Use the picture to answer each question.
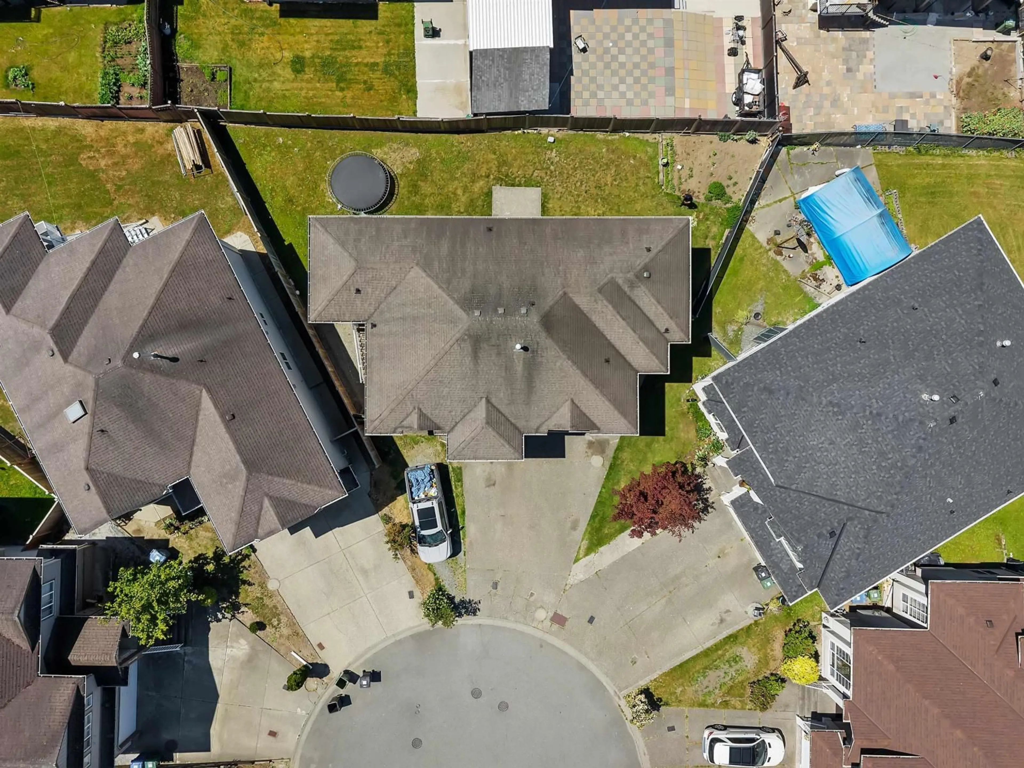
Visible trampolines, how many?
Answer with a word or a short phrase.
1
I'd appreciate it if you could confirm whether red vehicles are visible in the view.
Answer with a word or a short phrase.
No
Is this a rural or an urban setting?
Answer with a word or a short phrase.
urban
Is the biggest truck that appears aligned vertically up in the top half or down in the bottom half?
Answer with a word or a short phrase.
bottom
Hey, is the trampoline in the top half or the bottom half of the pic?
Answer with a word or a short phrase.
top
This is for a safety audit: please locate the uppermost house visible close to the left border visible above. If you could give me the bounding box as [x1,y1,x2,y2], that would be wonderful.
[0,208,358,557]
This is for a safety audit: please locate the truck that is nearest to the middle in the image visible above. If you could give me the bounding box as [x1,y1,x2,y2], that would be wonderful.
[404,461,454,565]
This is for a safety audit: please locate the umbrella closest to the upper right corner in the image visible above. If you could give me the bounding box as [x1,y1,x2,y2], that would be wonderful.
[778,233,809,254]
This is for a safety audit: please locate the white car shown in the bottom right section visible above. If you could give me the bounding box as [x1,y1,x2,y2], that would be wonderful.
[702,724,787,768]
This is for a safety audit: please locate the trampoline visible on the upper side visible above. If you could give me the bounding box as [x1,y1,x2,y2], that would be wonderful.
[326,150,391,214]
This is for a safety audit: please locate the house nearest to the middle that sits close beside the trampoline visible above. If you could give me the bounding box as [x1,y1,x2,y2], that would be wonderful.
[306,214,694,464]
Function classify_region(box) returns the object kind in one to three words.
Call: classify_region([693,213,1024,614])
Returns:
house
